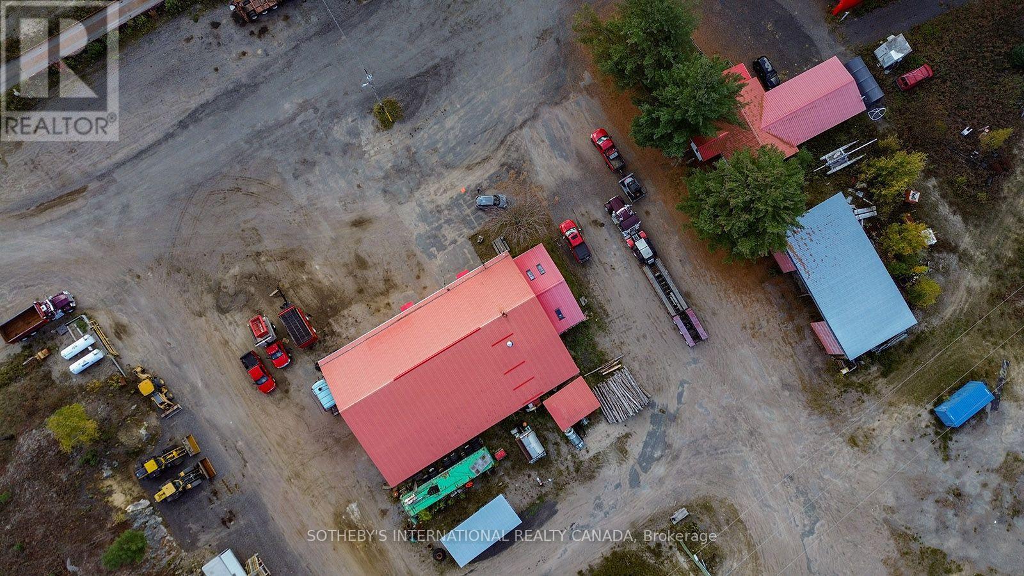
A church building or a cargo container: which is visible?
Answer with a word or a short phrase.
cargo container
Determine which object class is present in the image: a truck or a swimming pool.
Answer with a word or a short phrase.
truck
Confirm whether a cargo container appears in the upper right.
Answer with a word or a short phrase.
No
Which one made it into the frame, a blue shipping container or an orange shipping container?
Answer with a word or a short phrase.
blue shipping container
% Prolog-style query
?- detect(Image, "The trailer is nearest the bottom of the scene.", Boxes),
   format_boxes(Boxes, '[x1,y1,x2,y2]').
[205,542,256,576]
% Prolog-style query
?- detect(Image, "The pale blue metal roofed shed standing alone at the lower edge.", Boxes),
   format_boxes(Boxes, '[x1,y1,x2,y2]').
[440,492,522,567]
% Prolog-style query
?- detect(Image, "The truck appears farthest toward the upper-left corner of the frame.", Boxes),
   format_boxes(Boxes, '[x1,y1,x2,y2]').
[222,0,272,27]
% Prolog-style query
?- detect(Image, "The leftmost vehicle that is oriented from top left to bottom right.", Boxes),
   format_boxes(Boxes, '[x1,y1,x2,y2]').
[131,372,183,417]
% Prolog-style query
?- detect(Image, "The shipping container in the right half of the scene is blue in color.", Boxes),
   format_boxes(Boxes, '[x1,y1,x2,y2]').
[934,382,995,427]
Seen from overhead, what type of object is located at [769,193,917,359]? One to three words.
barn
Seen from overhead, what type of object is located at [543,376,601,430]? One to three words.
shed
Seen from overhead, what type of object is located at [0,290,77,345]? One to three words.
truck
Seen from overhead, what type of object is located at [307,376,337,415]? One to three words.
van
